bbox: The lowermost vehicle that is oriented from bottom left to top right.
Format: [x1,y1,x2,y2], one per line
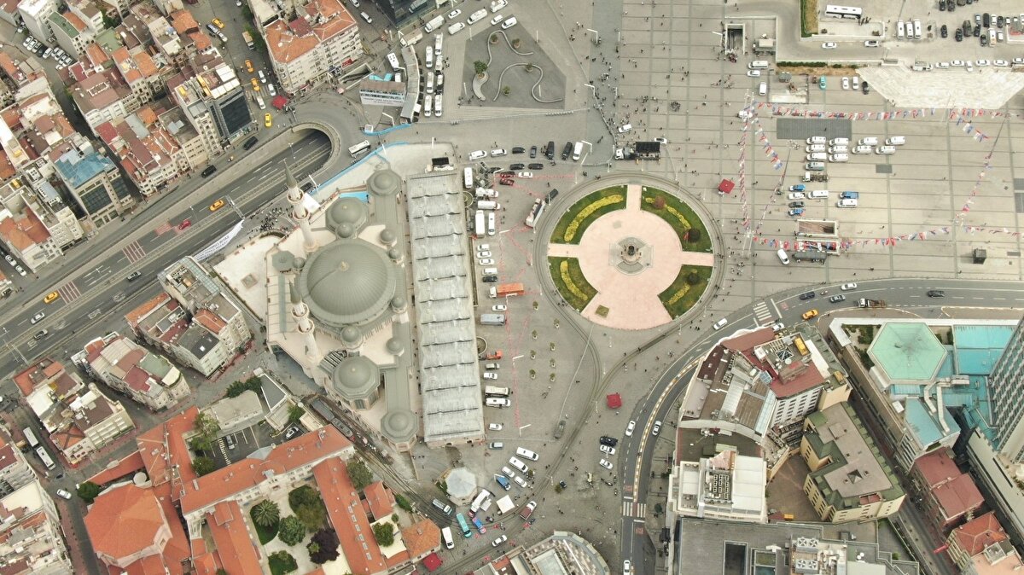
[492,535,508,547]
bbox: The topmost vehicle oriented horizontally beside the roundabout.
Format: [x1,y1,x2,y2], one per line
[614,145,662,160]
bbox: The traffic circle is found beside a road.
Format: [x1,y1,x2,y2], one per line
[532,172,728,345]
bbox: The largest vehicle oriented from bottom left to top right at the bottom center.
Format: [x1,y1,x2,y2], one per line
[466,484,492,519]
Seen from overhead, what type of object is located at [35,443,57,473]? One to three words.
bus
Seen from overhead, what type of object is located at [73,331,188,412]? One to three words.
building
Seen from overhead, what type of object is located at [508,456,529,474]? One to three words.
vehicle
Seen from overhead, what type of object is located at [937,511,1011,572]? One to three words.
house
